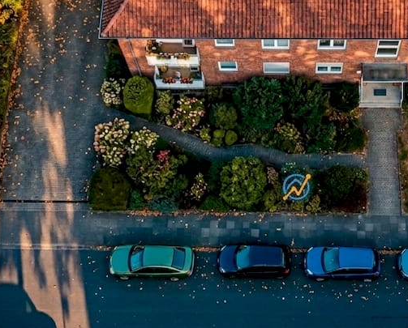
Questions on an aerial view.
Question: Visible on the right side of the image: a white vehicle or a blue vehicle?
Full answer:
There is a blue vehicle on the right side of the image.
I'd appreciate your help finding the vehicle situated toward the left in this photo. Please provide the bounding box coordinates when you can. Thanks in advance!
[109,242,194,281]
